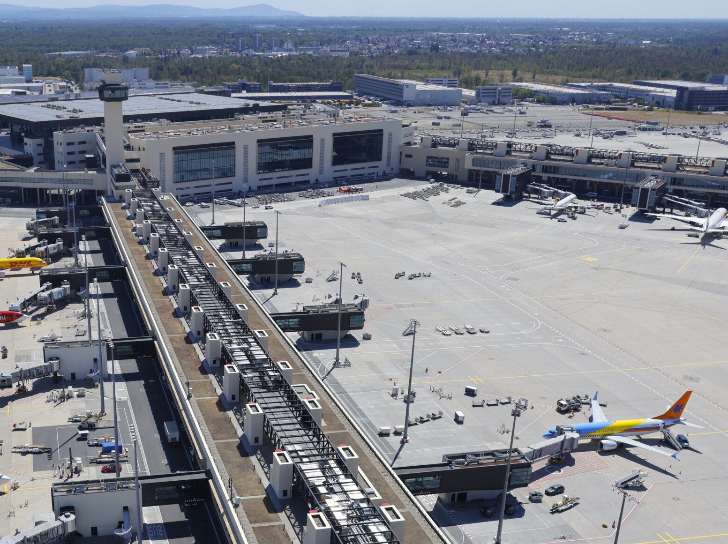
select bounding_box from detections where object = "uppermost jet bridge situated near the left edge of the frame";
[22,215,57,234]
